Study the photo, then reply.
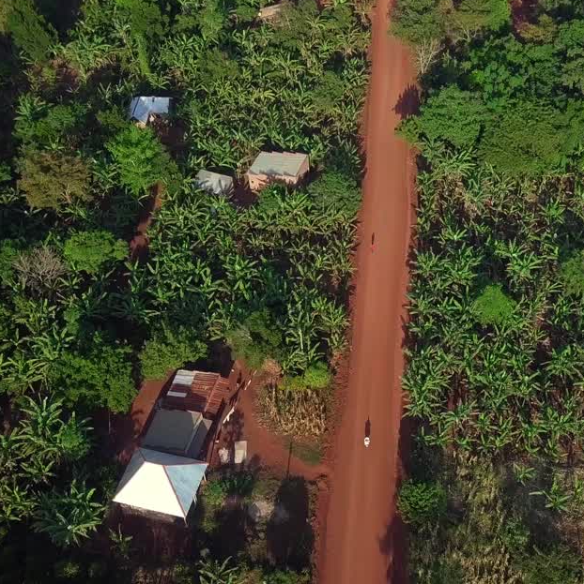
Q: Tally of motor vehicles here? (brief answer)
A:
0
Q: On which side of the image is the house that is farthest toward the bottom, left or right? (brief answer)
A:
left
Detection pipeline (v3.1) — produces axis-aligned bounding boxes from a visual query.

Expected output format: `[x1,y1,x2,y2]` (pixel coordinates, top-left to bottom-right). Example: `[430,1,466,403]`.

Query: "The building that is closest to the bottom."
[113,447,210,529]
